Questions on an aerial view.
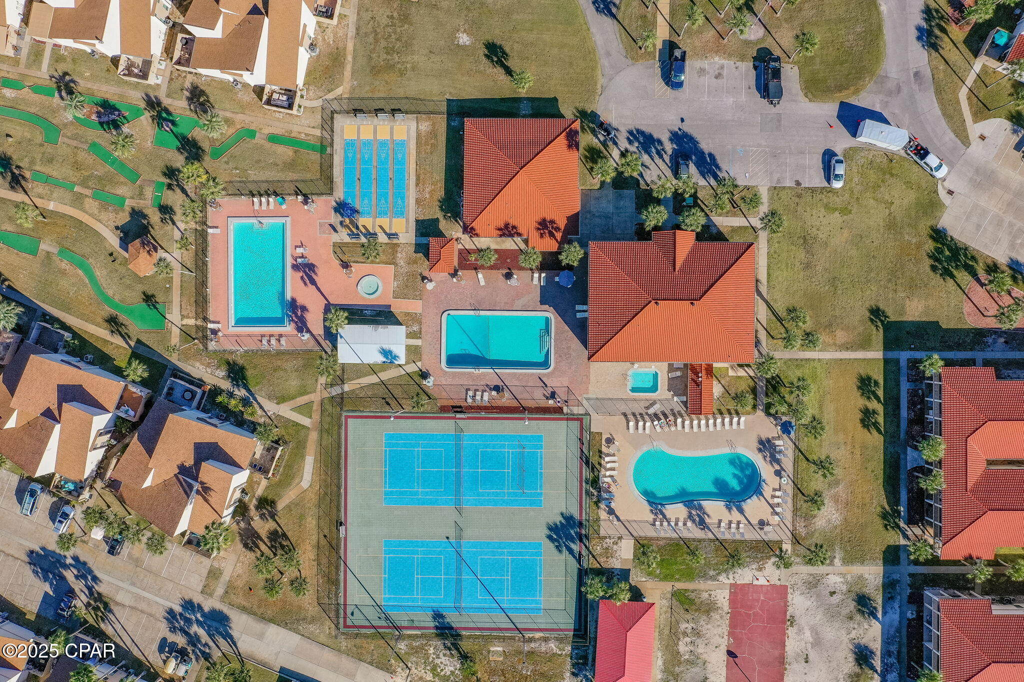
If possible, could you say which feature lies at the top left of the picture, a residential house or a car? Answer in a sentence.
There is a residential house at the top left of the picture.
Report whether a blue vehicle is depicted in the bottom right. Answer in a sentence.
No, there's no blue vehicle to be seen in the bottom right.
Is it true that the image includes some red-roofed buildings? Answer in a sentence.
Yes, the image includes a red-roofed building.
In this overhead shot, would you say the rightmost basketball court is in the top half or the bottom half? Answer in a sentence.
It is in the bottom half that the rightmost basketball court appears.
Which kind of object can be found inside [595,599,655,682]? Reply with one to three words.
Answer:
building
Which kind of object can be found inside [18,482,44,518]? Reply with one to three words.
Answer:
car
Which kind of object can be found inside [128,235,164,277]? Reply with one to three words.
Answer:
gazebo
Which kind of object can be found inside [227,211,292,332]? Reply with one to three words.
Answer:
swimming pool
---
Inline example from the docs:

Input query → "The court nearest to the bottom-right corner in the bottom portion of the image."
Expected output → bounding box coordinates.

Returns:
[726,584,788,682]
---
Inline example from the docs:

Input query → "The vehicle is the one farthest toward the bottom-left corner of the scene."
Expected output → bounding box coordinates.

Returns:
[54,592,80,625]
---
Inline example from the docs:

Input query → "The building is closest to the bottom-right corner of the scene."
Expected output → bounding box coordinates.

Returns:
[923,591,1024,682]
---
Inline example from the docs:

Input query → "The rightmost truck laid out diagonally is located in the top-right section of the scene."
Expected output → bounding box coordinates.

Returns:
[906,140,947,178]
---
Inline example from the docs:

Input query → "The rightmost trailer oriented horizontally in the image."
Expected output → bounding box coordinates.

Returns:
[858,117,912,148]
